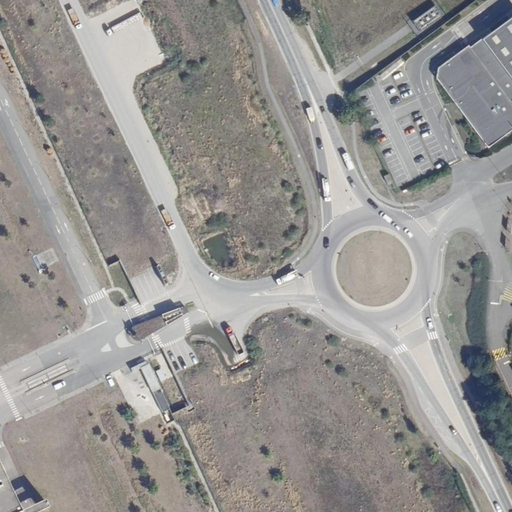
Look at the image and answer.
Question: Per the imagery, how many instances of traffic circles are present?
one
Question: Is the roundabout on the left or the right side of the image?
right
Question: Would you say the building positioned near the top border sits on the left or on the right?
right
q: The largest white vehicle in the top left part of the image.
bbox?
[106,12,140,36]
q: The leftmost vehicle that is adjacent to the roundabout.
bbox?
[278,270,298,284]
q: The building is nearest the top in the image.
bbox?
[438,18,512,149]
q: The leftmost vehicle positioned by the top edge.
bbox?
[67,8,80,28]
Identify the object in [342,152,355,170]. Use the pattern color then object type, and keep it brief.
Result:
white vehicle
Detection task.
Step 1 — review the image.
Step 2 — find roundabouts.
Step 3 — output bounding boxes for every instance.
[309,204,438,333]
